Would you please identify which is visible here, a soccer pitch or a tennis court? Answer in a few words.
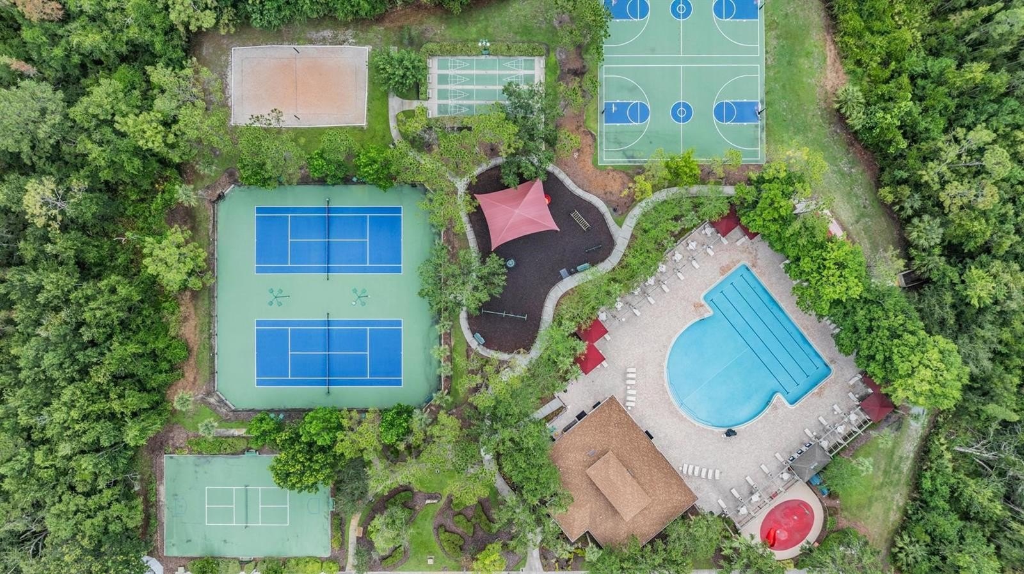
tennis court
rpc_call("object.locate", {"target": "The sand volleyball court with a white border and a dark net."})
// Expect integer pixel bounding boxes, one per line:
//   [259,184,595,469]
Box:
[231,45,368,127]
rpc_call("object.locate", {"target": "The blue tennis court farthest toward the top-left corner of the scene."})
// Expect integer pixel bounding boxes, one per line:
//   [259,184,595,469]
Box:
[255,199,402,280]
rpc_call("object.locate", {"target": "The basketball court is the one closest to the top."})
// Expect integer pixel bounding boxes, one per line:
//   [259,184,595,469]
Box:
[604,0,759,56]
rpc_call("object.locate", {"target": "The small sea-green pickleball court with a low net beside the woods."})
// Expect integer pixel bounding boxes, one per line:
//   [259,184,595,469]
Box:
[164,455,331,557]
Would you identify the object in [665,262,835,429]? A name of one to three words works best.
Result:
swimming pool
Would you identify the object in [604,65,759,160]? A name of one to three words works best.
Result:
basketball court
